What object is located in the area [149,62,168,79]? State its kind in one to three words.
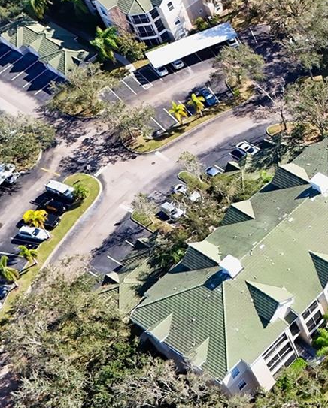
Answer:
car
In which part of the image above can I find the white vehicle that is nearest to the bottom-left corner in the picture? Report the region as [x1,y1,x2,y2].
[16,226,46,243]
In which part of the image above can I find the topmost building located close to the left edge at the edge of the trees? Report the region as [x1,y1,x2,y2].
[0,6,96,76]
